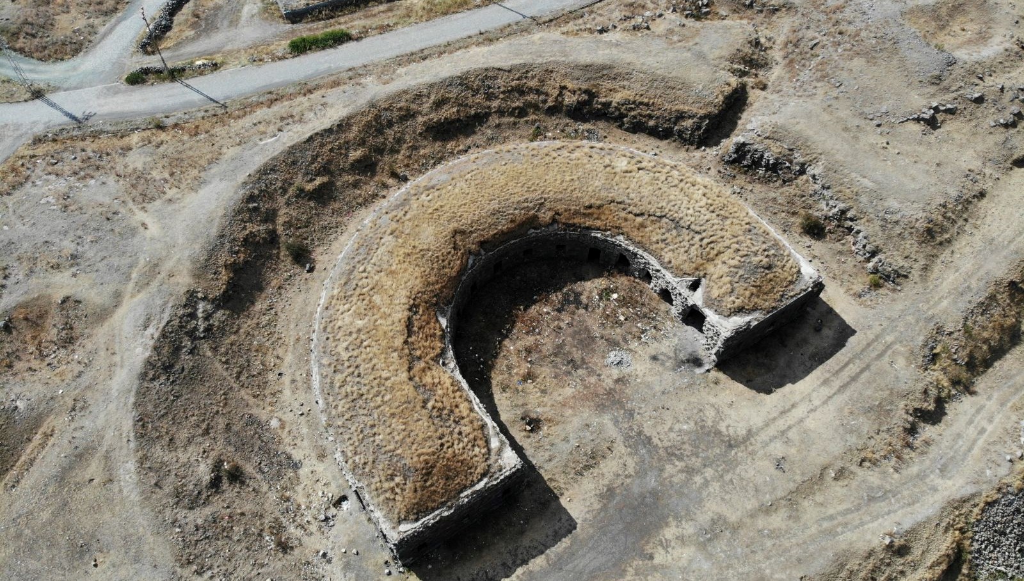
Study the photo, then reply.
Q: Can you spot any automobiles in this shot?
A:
No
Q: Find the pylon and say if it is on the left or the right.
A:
left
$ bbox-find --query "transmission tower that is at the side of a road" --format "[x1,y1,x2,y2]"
[0,29,43,99]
